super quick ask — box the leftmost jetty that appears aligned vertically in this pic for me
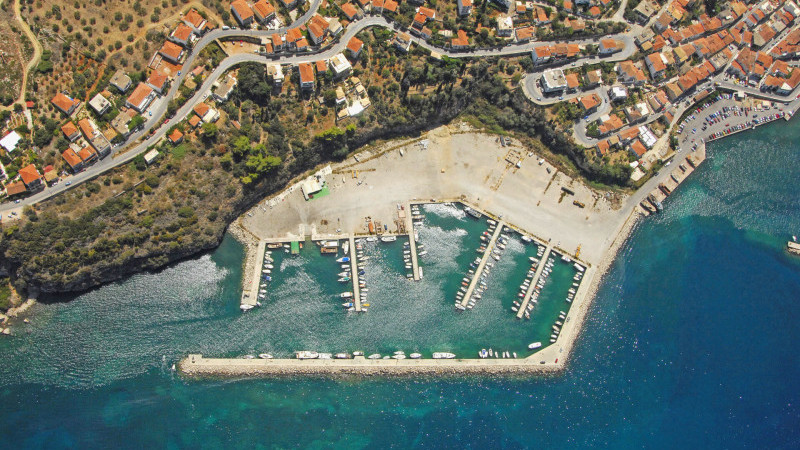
[241,242,266,305]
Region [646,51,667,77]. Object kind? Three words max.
house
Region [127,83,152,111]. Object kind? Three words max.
house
